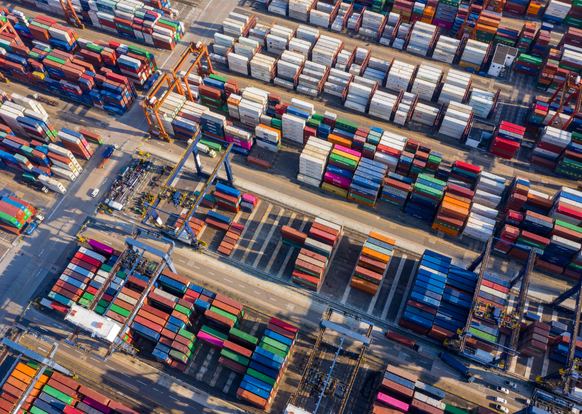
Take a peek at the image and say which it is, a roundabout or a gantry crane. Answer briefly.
gantry crane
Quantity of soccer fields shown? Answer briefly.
0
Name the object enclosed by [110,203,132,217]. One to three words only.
vehicle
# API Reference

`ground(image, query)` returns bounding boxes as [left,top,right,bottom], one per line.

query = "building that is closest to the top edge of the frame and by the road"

[488,44,518,76]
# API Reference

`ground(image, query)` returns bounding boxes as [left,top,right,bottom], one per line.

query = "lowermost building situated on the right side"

[465,119,495,147]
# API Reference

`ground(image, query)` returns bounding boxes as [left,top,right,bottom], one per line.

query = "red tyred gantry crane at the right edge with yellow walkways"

[542,76,582,130]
